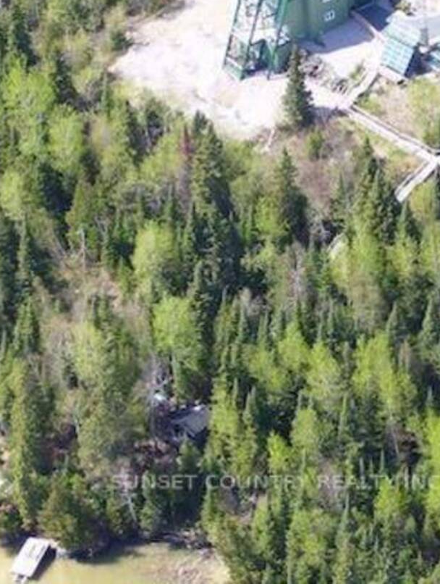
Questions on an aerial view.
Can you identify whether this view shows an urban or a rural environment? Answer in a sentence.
It looks rural.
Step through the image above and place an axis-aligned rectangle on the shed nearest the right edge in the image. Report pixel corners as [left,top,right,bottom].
[379,14,430,75]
